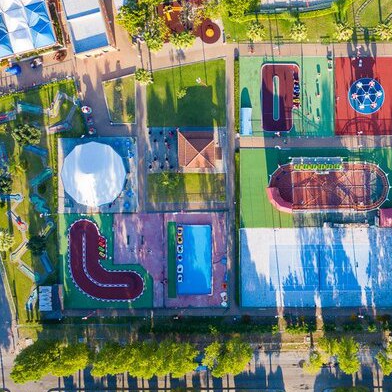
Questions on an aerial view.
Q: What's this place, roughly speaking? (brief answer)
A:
sports ground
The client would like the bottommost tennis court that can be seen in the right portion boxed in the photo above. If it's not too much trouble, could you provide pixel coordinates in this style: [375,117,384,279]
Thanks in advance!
[240,228,392,308]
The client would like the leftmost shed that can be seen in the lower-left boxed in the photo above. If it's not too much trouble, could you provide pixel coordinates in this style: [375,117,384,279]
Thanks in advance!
[39,284,67,316]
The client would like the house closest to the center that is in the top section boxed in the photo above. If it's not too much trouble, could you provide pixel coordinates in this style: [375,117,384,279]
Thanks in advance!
[176,130,222,168]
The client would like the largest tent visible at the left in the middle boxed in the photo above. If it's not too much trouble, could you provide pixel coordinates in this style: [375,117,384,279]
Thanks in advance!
[59,141,127,208]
